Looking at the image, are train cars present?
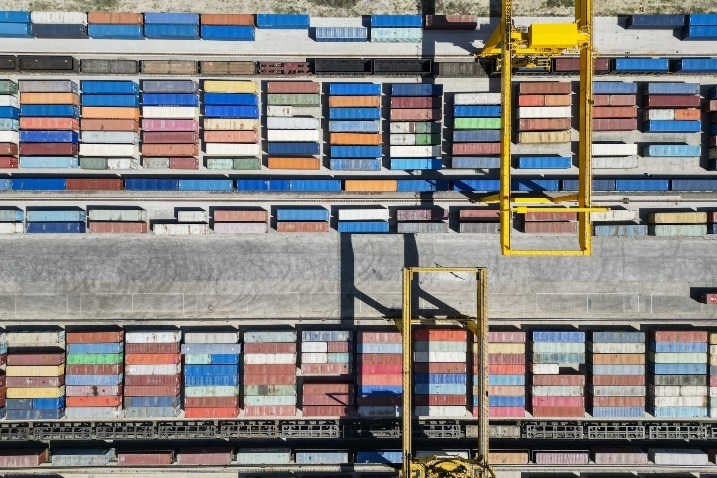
Yes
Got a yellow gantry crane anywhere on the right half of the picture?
Yes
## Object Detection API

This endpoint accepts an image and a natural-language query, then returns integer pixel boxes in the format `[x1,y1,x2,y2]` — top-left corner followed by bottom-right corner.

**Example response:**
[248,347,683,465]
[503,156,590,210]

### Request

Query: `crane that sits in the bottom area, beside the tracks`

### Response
[383,267,492,478]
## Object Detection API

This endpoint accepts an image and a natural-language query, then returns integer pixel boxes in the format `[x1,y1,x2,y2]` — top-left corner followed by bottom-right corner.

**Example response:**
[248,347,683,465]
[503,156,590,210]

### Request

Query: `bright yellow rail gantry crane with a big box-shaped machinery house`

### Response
[469,0,611,255]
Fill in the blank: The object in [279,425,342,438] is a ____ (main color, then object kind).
gray rail car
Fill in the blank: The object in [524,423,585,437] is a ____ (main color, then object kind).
gray rail car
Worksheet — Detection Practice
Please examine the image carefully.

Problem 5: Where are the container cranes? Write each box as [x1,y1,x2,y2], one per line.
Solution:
[383,267,492,478]
[469,0,611,255]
